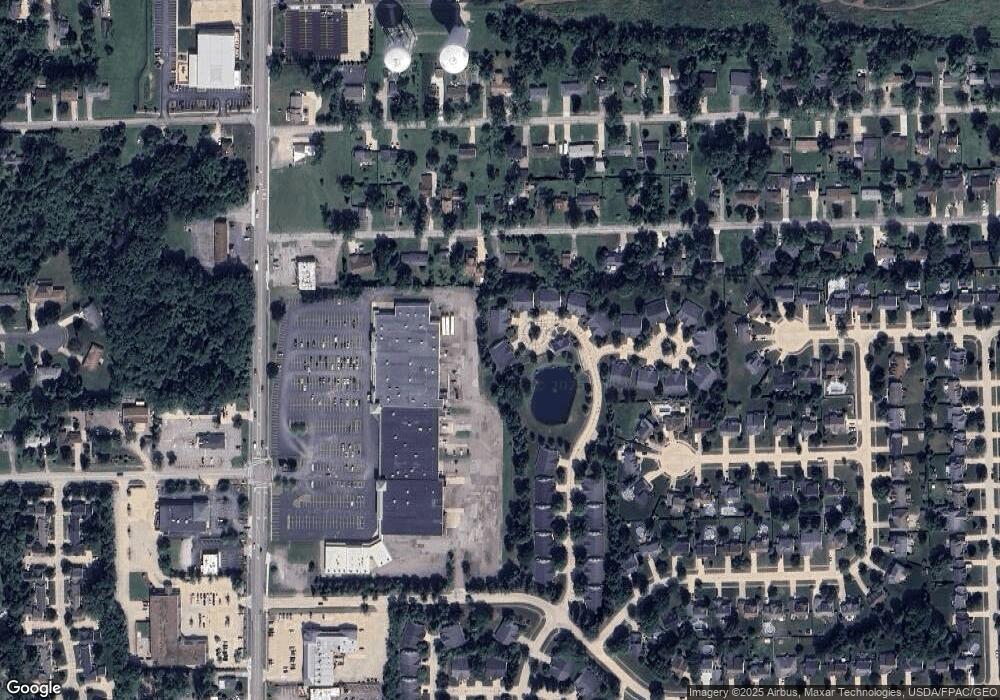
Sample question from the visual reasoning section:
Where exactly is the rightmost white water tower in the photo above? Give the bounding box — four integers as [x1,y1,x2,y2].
[440,23,471,70]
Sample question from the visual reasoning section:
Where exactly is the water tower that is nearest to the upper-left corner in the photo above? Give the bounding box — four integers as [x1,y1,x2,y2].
[384,21,418,70]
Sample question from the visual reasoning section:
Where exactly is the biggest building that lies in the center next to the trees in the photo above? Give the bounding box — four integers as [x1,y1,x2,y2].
[371,299,444,535]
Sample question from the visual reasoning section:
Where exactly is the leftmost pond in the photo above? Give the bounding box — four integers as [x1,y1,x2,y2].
[531,366,576,425]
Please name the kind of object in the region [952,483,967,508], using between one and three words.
house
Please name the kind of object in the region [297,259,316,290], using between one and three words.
building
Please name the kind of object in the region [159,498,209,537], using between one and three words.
building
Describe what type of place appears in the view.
residential area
